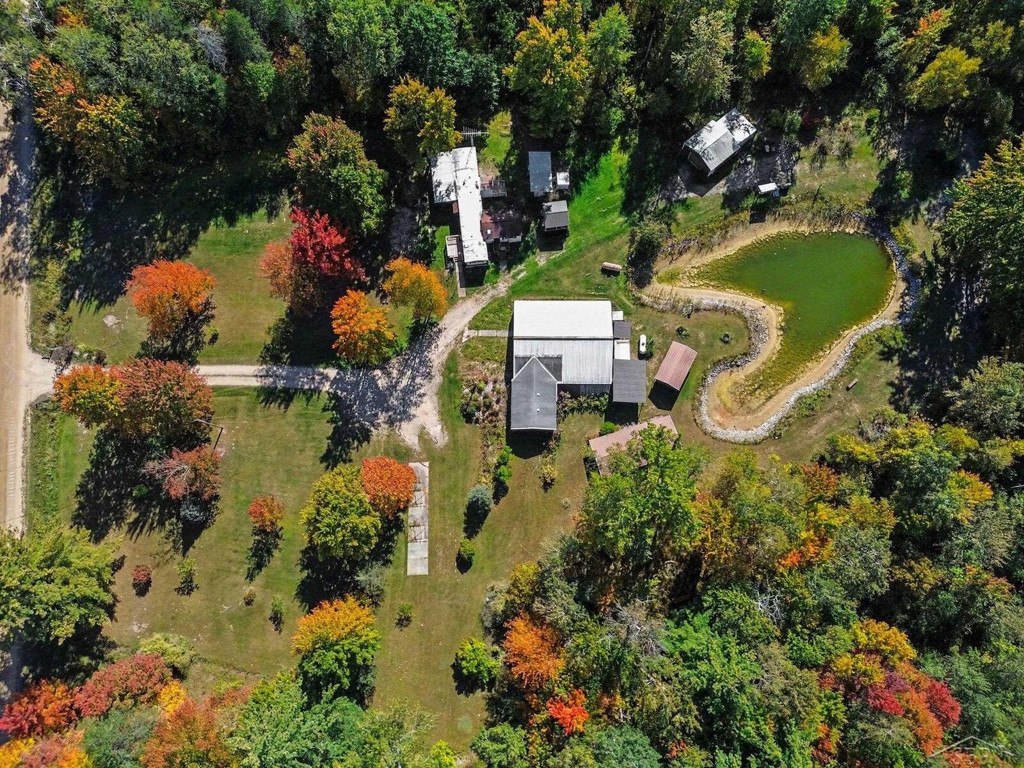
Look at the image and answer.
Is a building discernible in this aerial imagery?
Yes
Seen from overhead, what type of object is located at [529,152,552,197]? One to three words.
shed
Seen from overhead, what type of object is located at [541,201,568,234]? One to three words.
shed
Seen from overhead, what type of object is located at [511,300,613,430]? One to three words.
house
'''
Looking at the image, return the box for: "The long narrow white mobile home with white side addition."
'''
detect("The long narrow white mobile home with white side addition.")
[431,146,488,266]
